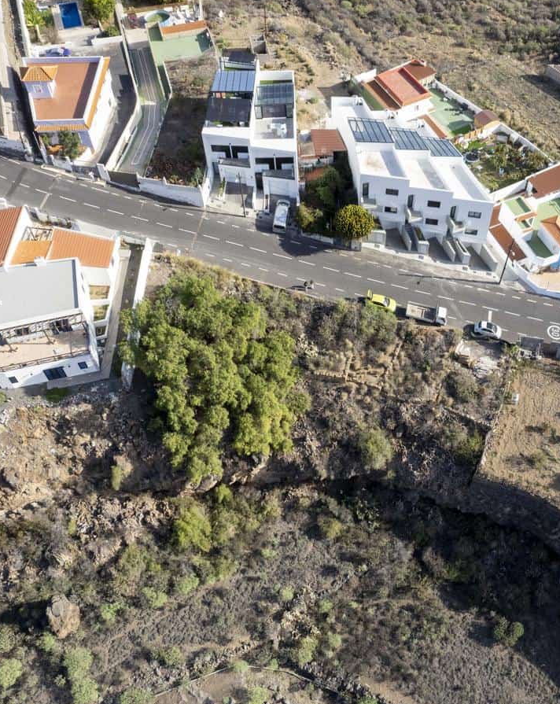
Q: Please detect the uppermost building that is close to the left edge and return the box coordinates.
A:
[23,56,117,159]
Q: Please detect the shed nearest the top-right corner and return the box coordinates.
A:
[474,110,500,136]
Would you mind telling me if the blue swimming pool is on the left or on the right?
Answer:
left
